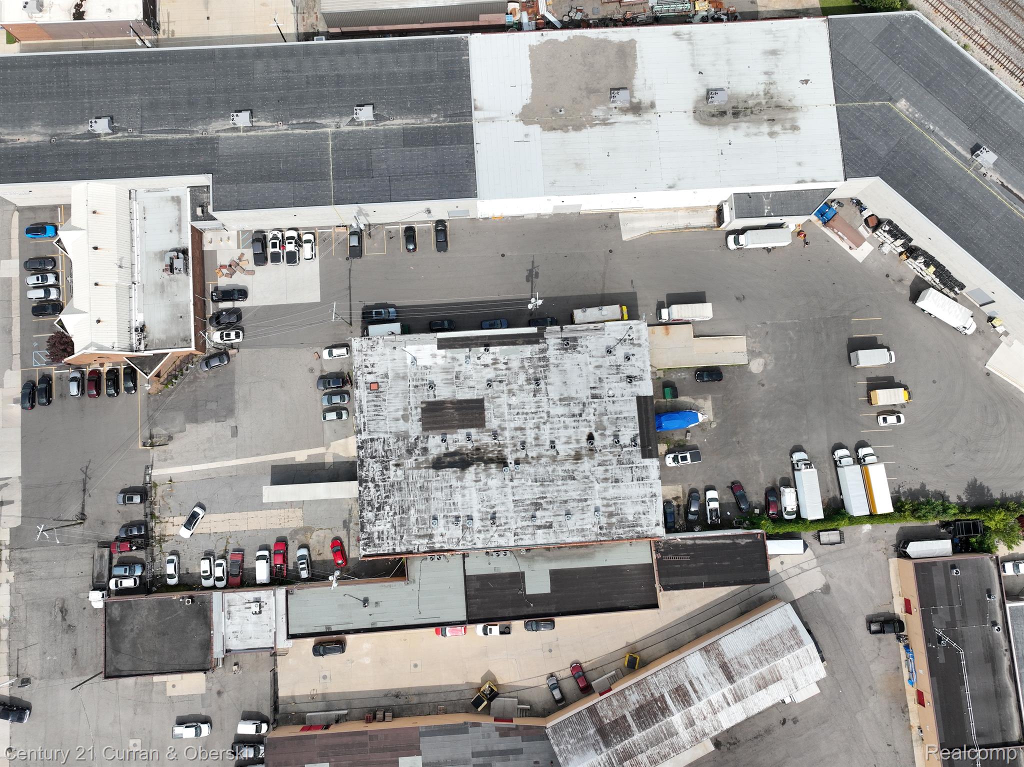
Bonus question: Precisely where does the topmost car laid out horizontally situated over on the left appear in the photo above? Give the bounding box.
[28,225,56,238]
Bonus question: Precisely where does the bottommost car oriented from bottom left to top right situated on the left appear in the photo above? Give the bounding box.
[181,507,205,536]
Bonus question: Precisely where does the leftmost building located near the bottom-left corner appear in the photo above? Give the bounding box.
[102,586,226,680]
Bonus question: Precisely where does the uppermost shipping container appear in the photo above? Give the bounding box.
[821,216,863,252]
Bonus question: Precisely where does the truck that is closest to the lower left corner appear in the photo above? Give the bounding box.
[0,704,35,725]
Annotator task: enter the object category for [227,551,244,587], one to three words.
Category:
vehicle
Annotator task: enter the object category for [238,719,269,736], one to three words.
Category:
car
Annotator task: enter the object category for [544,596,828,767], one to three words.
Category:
shed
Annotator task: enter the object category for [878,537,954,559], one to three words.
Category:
trailer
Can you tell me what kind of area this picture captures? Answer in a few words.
industrial area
